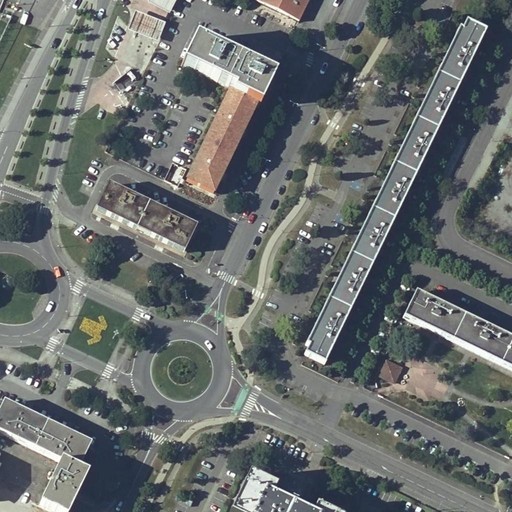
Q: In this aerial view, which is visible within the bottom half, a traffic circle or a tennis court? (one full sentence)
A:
The feature located within the bottom half is a traffic circle.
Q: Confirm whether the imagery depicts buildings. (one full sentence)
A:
Yes, a building appears in the view.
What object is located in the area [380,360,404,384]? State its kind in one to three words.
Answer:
building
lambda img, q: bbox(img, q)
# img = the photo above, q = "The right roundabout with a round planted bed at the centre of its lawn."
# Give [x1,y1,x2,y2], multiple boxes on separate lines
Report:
[132,320,232,421]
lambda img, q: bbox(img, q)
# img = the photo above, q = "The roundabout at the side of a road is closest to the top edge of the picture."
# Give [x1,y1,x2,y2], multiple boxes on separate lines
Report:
[0,234,64,346]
